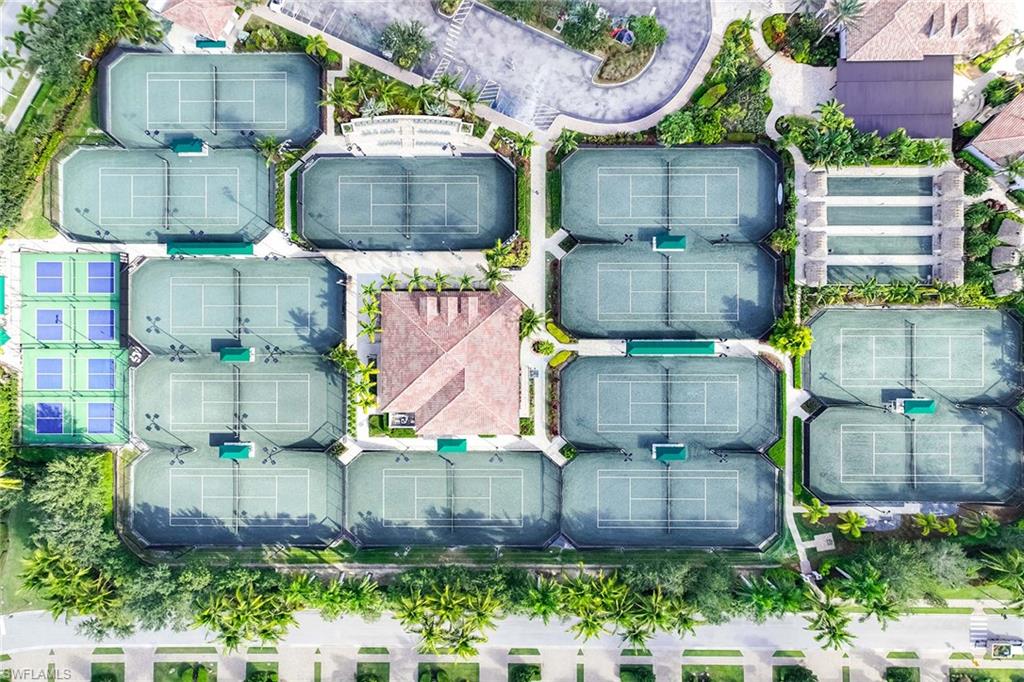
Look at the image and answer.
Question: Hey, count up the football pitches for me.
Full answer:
No football pitches are visible.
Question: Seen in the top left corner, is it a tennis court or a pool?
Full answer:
It is a tennis court that can be seen in the top left corner.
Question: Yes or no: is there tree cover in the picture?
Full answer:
Yes, some tree cover is visible.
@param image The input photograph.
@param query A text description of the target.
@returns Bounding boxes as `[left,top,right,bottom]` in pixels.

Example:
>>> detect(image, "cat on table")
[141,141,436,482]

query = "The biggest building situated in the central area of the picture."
[380,284,526,437]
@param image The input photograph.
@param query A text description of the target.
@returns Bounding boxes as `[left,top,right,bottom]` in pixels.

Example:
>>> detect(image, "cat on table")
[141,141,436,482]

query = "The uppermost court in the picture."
[109,54,319,148]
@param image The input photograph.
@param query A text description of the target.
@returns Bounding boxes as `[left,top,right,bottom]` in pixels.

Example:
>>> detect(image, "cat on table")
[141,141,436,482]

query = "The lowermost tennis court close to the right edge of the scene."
[810,406,1017,502]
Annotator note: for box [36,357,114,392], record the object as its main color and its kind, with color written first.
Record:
blue sports court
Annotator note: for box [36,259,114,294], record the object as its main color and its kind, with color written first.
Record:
blue sports court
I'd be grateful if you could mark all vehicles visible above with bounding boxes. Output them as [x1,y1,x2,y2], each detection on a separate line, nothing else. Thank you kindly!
[985,638,1024,657]
[269,0,285,11]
